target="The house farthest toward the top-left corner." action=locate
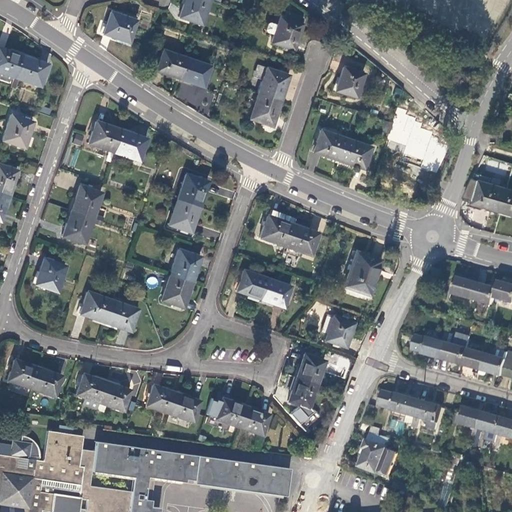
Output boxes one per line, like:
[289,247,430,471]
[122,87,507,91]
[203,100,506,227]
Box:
[0,45,51,88]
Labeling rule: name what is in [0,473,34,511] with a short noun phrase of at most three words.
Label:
building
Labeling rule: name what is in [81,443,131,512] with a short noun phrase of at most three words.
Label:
building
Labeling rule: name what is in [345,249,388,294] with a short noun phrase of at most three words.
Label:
house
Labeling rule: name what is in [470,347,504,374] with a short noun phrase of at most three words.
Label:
house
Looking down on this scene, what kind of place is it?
residential area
